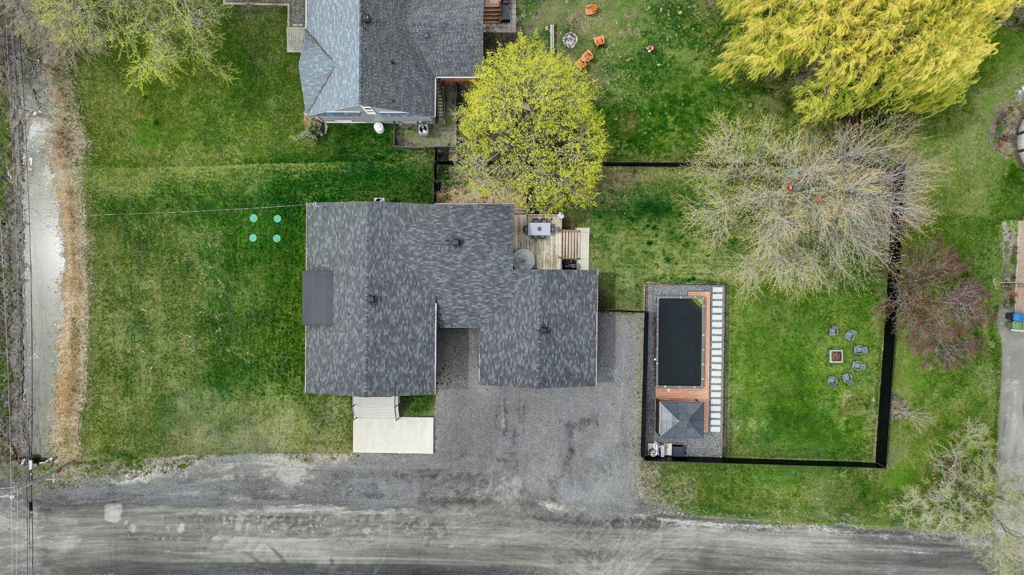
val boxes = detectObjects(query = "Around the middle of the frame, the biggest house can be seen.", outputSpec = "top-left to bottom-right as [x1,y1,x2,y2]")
[302,200,599,398]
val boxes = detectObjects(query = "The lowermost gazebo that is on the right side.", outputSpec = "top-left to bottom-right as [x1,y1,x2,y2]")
[655,397,705,438]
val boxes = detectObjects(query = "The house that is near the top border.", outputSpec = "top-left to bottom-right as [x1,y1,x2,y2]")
[298,0,483,126]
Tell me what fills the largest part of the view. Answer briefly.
grass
